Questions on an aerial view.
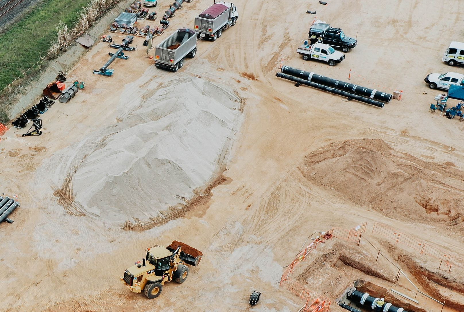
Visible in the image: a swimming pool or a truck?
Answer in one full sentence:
The one in the frame is a truck.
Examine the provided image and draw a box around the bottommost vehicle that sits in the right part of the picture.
[420,70,464,91]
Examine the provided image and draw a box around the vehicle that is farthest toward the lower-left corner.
[117,242,211,301]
